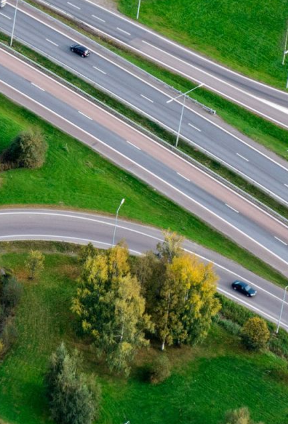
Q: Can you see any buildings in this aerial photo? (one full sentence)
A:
No, no building is visible in the view.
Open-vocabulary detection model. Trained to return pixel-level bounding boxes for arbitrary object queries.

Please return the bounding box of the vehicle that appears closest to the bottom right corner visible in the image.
[231,280,258,298]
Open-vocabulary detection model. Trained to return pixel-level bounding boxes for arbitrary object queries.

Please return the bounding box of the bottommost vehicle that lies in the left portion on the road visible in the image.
[69,45,92,58]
